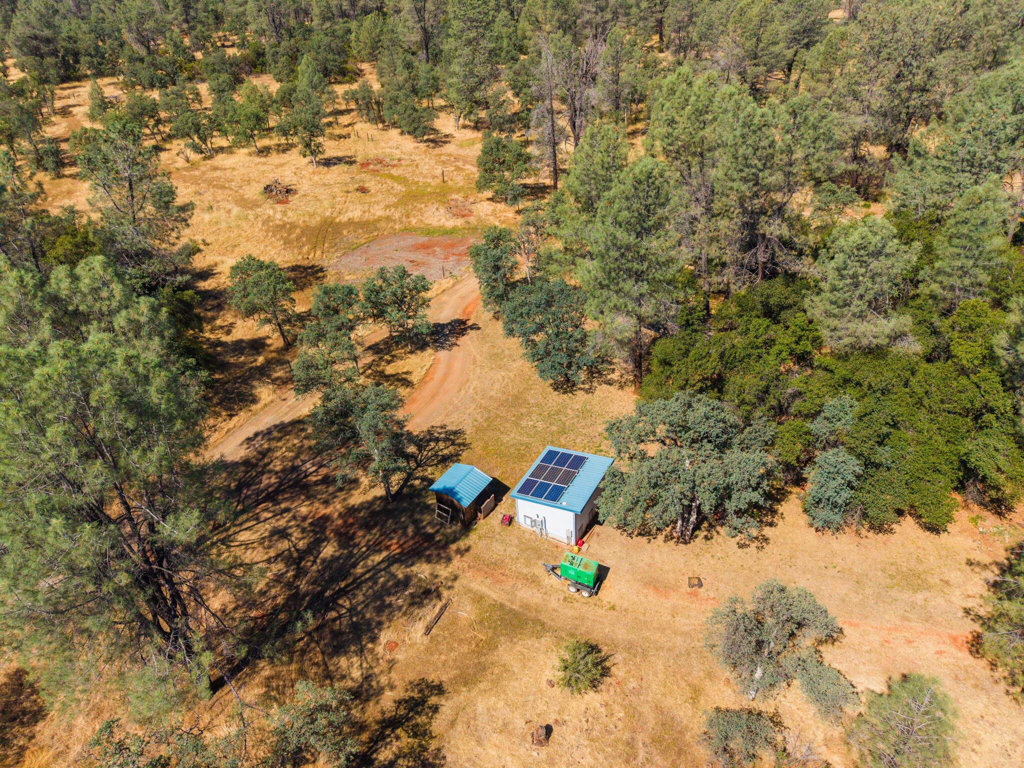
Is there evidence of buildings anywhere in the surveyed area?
Yes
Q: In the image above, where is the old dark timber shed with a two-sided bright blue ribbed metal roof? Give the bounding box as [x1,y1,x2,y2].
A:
[429,463,493,525]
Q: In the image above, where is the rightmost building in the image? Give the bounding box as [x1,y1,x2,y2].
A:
[509,444,615,545]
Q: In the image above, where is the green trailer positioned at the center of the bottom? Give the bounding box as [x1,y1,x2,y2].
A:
[541,552,603,597]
